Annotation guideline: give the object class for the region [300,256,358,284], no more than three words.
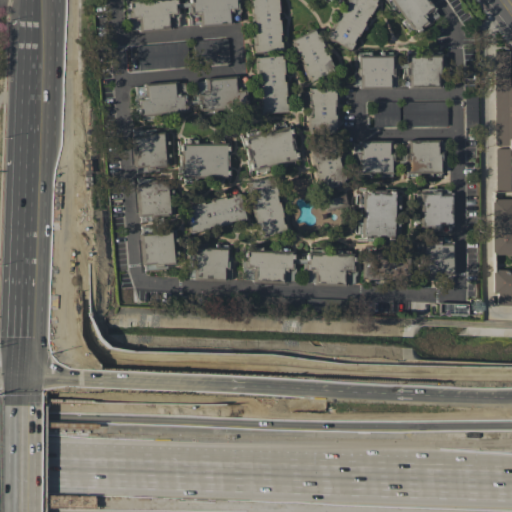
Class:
building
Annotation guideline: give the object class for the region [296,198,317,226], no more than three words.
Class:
swimming pool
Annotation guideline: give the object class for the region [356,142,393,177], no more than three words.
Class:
building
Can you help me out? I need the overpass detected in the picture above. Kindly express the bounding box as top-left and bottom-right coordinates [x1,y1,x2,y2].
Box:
[0,391,48,512]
